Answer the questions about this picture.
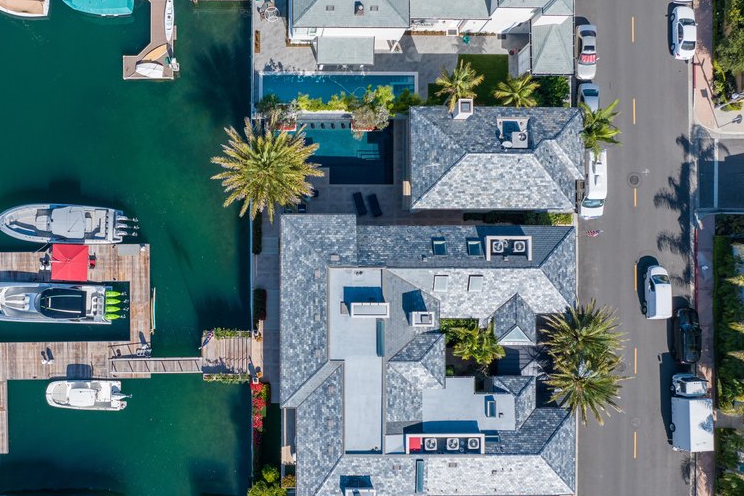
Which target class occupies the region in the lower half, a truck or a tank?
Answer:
truck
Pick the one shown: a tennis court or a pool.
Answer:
pool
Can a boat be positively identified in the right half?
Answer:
No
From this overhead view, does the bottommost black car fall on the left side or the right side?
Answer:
right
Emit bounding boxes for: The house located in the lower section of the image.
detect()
[278,214,575,496]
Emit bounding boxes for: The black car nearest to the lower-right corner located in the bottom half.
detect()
[669,308,703,364]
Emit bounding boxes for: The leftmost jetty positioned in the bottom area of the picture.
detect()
[0,244,151,454]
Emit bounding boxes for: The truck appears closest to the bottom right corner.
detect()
[669,372,715,452]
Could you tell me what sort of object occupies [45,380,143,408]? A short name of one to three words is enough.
boat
